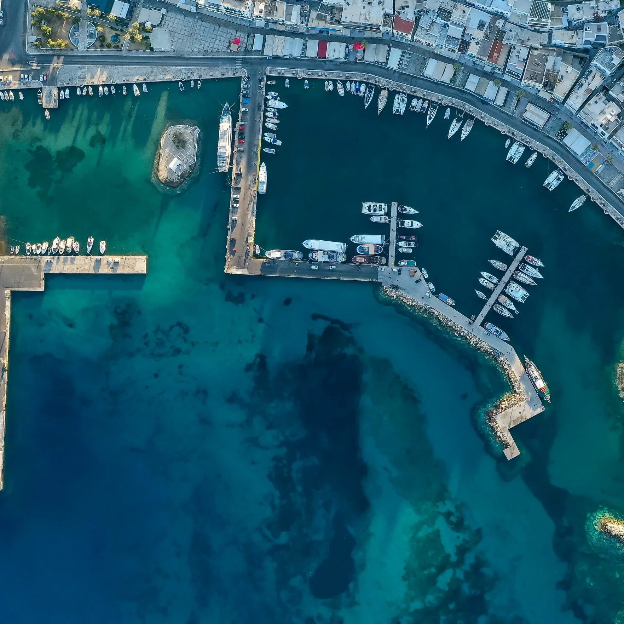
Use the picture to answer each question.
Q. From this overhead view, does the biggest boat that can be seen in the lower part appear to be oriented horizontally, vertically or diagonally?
diagonally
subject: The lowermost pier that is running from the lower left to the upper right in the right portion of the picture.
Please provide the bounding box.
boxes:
[474,247,528,325]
